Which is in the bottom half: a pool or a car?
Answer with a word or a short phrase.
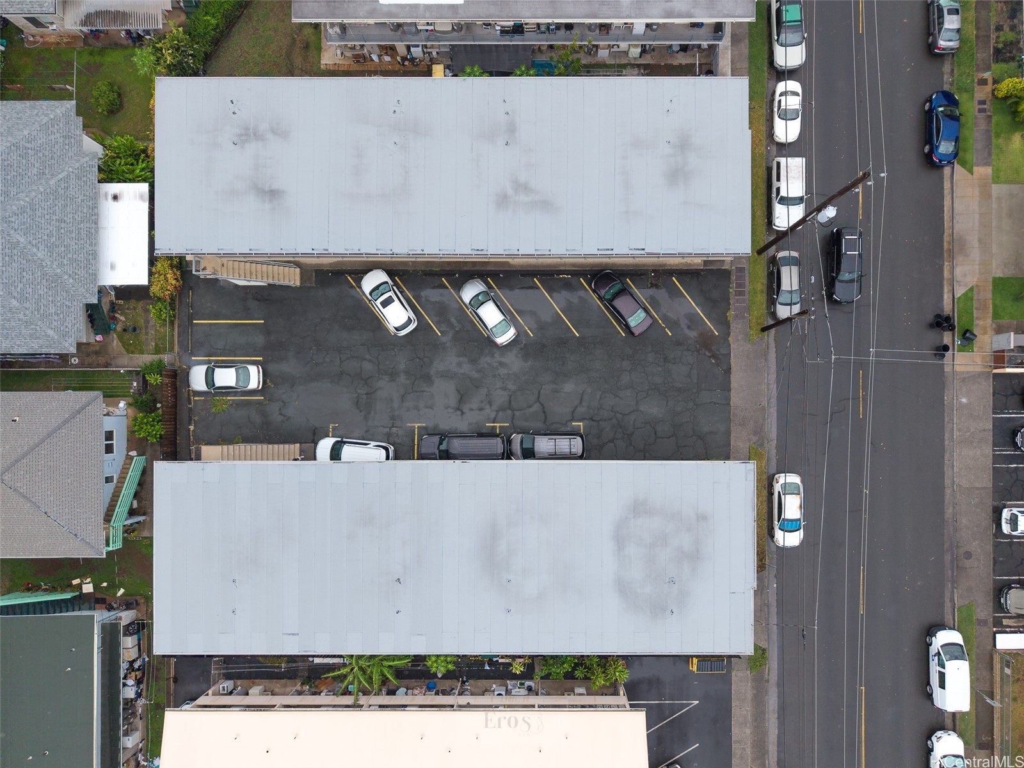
car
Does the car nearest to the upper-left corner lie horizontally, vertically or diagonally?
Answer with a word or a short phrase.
horizontally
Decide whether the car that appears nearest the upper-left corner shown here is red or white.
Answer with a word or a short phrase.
white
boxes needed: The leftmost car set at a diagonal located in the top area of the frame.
[362,270,417,337]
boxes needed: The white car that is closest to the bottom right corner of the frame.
[926,726,965,768]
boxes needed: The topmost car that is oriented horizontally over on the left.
[189,362,266,393]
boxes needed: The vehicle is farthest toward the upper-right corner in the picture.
[925,0,963,58]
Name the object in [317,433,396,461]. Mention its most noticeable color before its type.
white car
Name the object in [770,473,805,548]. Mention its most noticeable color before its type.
white car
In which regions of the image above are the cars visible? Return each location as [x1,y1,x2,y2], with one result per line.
[770,0,808,73]
[419,431,506,461]
[927,627,971,714]
[769,248,804,321]
[1000,583,1024,615]
[189,362,266,393]
[925,0,963,58]
[362,270,417,337]
[658,760,686,768]
[923,91,962,168]
[461,279,518,347]
[770,473,805,548]
[592,270,653,337]
[926,726,965,768]
[827,226,866,302]
[770,154,807,231]
[508,431,586,461]
[317,433,396,461]
[1002,505,1024,536]
[770,79,804,147]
